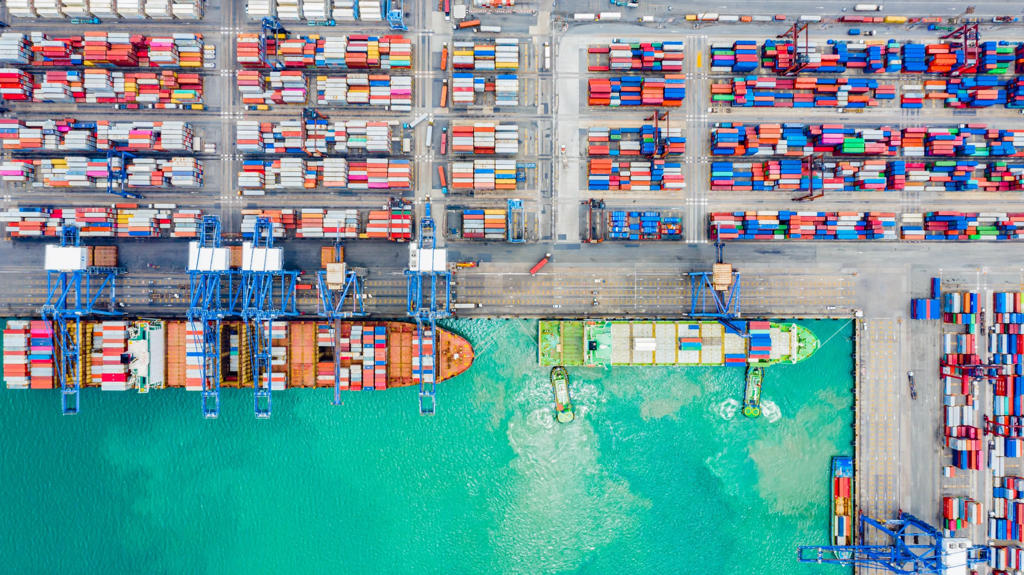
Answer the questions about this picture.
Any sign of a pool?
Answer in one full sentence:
No, no pool can be seen from above.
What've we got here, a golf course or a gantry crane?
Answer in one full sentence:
Looking from above, you can make out a gantry crane.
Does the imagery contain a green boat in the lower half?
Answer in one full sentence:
Yes, in the lower half there is a green boat.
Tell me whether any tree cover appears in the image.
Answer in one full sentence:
No, the picture contains no tree cover.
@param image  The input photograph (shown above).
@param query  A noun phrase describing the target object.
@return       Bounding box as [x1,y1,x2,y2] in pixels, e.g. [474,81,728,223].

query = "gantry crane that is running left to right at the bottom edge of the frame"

[796,508,992,575]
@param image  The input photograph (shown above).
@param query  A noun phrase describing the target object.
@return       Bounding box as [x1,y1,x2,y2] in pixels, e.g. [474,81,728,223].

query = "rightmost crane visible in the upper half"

[938,24,980,76]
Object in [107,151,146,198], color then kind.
blue container crane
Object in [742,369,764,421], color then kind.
green boat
